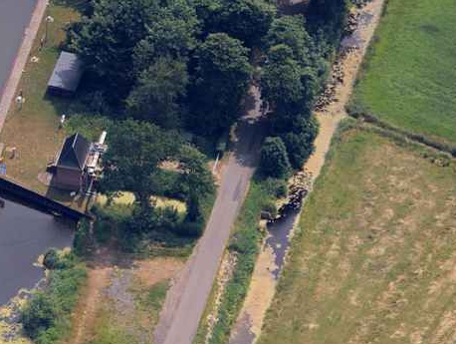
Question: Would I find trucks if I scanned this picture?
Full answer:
No, the photo shows no truck.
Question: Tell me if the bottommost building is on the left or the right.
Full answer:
The bottommost building sits on the left side.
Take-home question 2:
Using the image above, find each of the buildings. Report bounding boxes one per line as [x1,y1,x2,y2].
[45,130,92,184]
[49,53,82,103]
